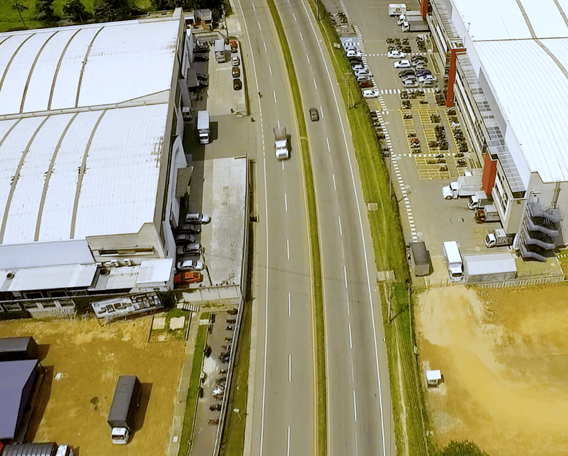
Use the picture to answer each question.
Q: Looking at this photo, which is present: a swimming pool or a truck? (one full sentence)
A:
Visible in the photo is a truck.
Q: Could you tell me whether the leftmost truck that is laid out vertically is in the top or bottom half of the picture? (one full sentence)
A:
The leftmost truck that is laid out vertically sits in the bottom half of the picture.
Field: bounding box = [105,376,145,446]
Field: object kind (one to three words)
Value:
truck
